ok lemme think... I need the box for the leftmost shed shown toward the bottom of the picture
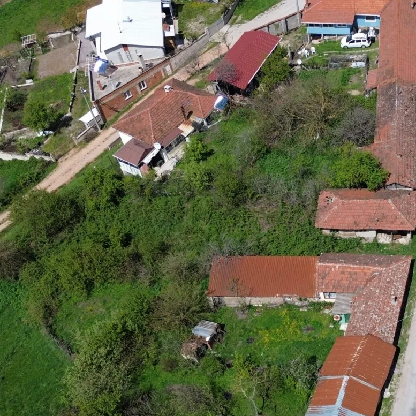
[193,320,226,349]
